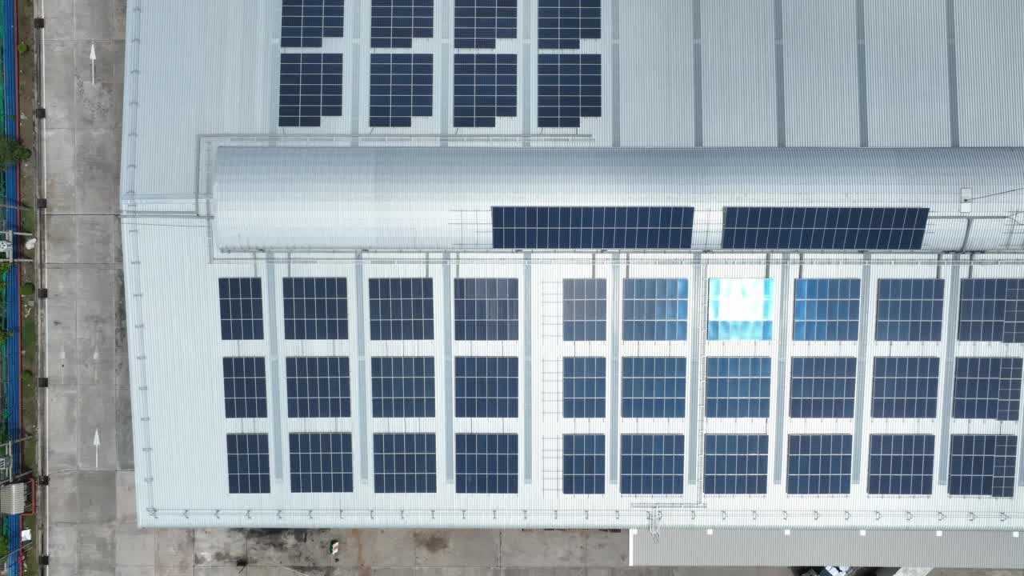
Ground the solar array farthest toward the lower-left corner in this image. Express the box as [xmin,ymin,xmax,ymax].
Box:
[225,426,269,493]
